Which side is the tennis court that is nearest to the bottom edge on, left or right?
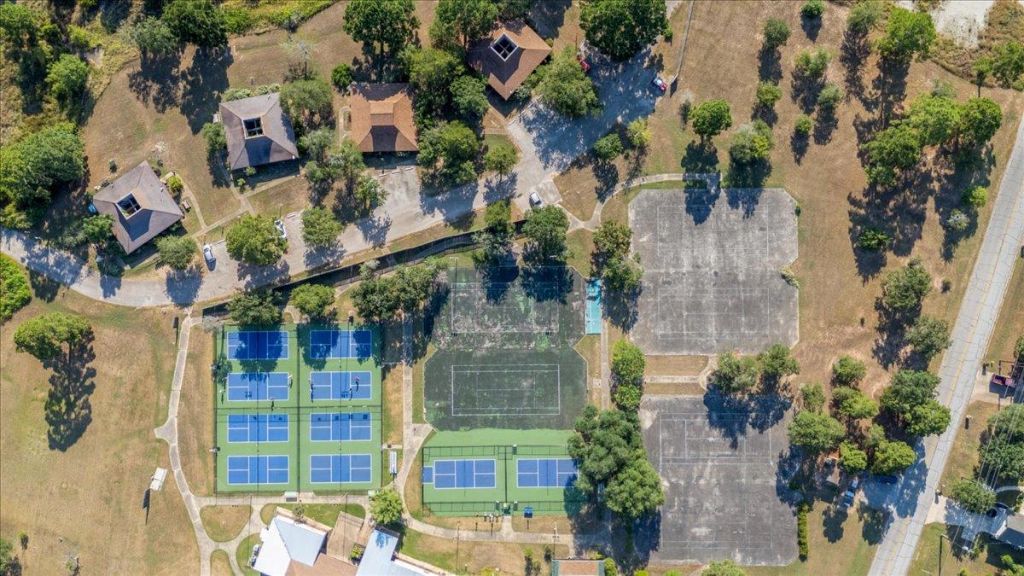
right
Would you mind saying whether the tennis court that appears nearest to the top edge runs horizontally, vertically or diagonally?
horizontally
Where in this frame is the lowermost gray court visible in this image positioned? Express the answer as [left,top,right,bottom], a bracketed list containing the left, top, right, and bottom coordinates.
[643,481,798,566]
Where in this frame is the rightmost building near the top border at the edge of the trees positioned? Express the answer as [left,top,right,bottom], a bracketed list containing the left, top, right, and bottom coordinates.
[457,10,552,100]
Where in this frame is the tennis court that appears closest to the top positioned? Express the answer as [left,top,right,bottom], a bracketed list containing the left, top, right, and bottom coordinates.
[629,188,799,266]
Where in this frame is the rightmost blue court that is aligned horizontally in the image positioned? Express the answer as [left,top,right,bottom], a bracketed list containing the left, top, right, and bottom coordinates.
[517,459,579,488]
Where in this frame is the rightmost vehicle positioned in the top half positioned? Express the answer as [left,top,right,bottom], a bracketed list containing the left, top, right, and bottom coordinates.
[650,74,670,92]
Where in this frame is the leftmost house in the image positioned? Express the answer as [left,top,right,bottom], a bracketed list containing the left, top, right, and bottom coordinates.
[93,161,185,254]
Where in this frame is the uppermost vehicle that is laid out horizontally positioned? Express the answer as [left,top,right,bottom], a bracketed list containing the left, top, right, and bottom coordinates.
[992,374,1019,388]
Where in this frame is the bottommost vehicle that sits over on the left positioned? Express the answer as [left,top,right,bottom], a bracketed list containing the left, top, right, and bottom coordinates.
[201,244,215,266]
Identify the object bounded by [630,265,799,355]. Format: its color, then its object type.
gray tennis court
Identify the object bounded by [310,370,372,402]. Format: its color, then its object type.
blue sports court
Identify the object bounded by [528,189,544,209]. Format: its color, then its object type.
white car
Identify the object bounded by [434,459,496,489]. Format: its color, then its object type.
blue sports court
